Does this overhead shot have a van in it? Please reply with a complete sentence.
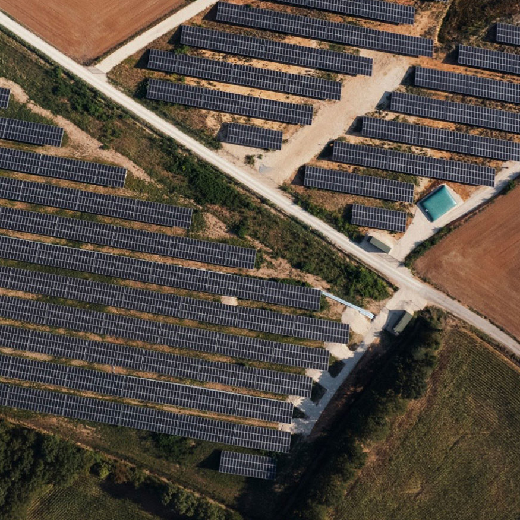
No, there isn't any van down there.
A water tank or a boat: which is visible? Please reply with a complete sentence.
It is a water tank that can be seen here.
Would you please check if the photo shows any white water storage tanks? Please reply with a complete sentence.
No, no white water storage tank is visible in the scene.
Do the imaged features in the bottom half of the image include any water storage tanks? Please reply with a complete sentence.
No, there's no water storage tank to be seen in the bottom half of the image.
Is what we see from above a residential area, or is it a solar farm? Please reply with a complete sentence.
The picture captures a solar farm.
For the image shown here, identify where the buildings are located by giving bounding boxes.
[392,310,412,333]
[367,237,391,253]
